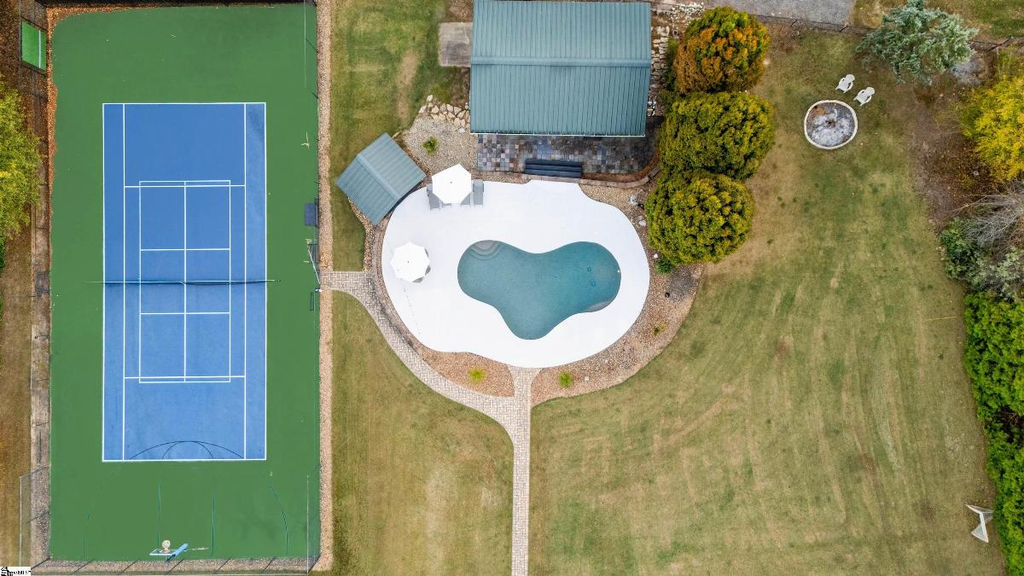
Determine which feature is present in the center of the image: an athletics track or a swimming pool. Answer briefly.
swimming pool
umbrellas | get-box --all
[391,242,430,283]
[432,164,472,204]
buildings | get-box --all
[337,133,425,225]
[470,0,654,139]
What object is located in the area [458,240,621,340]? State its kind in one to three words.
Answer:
swimming pool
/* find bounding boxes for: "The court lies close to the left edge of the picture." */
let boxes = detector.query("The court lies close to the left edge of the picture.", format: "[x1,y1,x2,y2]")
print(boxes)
[50,7,320,560]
